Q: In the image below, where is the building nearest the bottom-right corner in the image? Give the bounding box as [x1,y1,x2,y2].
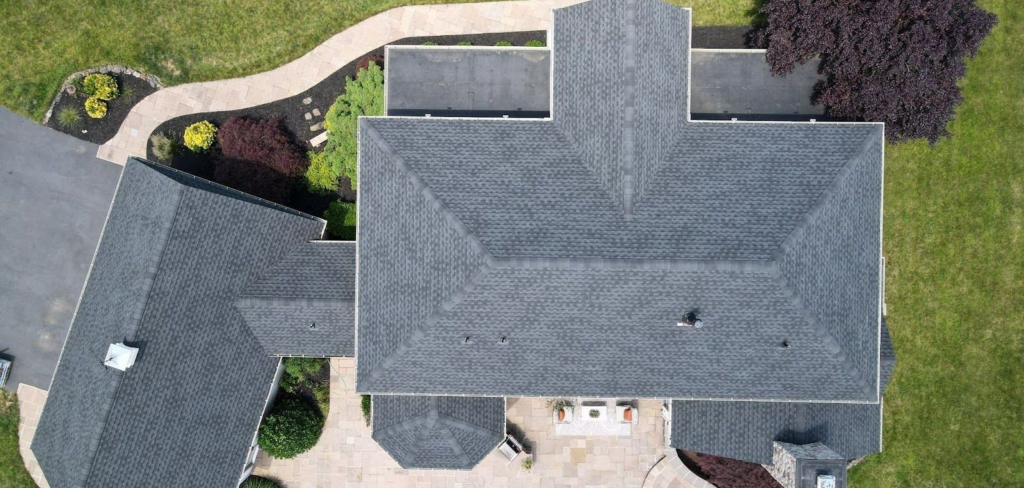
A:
[354,0,897,488]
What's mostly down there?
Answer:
buildings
